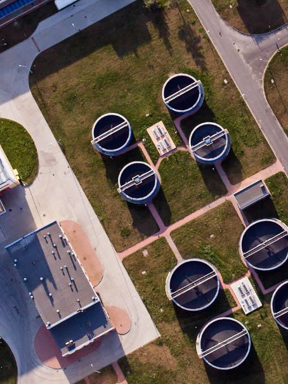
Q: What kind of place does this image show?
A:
industrial area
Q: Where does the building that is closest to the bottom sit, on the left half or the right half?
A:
left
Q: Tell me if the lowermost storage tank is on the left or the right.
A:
right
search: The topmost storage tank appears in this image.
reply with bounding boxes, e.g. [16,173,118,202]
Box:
[163,74,205,115]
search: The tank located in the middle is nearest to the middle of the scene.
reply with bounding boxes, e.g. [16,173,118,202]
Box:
[118,162,161,203]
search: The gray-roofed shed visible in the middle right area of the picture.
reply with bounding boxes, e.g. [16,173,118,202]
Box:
[234,180,270,209]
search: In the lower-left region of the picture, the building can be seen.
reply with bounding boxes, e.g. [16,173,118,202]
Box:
[5,221,115,357]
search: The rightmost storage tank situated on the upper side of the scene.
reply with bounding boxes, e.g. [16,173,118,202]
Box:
[189,122,231,164]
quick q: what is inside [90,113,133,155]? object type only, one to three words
storage tank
